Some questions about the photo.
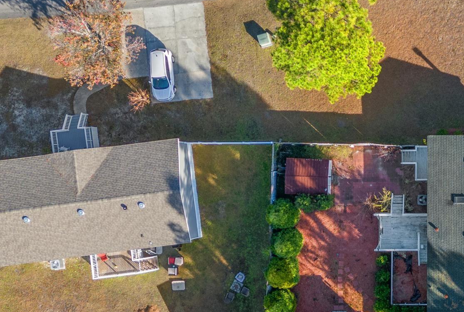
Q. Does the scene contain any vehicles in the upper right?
No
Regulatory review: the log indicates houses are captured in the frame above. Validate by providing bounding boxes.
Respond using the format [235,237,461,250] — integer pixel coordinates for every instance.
[0,137,205,267]
[424,133,464,312]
